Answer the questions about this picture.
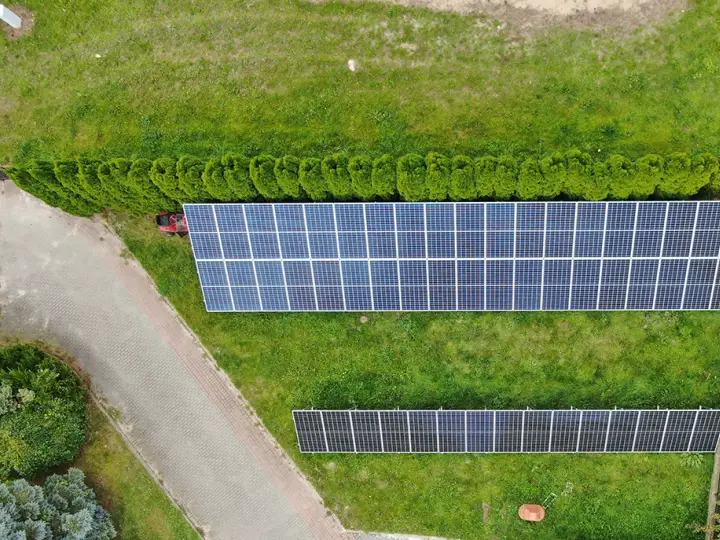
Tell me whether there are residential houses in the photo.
No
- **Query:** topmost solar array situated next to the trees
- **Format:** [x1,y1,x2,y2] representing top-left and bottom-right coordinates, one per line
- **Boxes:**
[184,200,720,311]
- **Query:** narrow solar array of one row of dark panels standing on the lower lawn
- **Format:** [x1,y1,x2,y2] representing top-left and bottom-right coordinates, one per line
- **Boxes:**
[292,406,720,453]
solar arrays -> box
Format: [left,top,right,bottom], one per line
[292,406,720,453]
[184,200,720,311]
